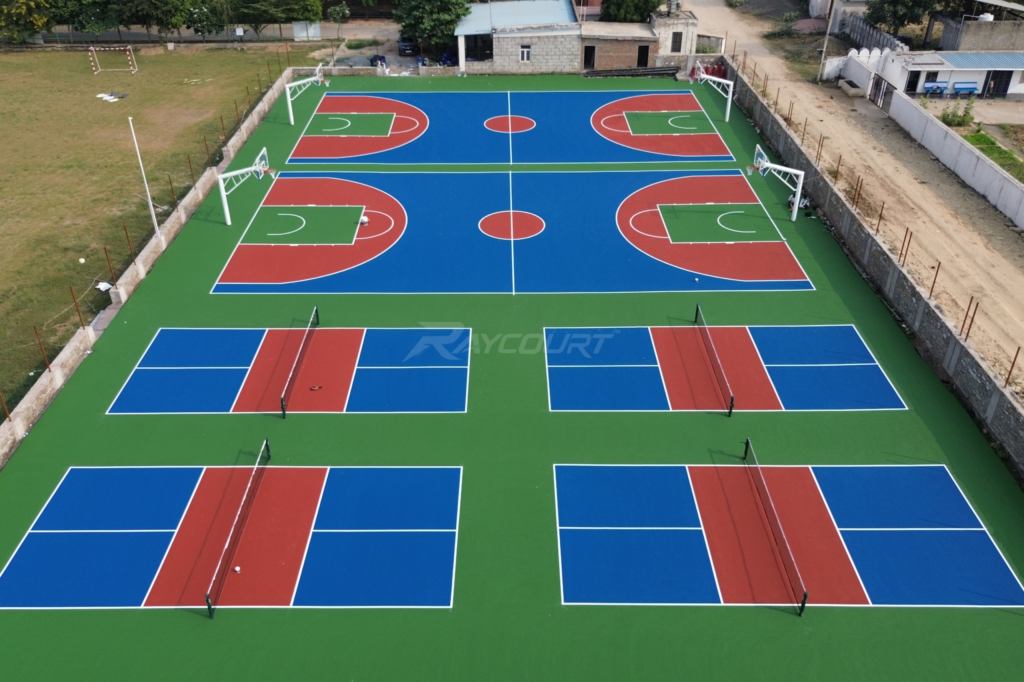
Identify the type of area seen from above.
sports ground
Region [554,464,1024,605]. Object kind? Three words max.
sports court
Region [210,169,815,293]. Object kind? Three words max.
basketball court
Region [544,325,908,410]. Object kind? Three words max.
sports court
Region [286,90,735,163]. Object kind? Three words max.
basketball court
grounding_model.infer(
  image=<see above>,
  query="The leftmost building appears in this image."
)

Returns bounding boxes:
[454,0,582,73]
